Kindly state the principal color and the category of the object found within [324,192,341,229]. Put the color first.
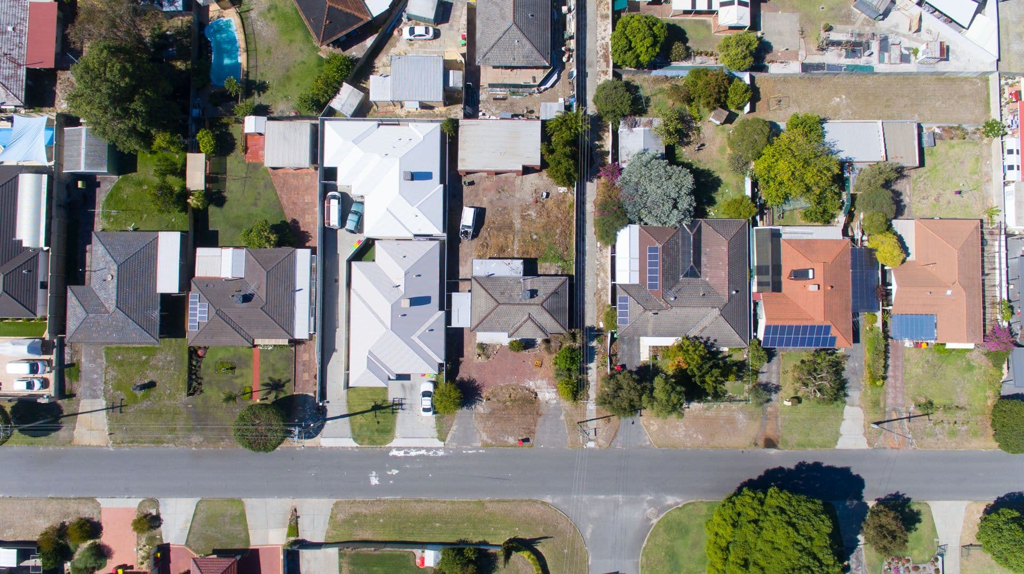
white vehicle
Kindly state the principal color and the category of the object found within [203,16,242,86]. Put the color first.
blue swimming pool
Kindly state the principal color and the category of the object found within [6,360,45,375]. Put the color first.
white vehicle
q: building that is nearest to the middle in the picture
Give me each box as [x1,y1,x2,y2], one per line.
[451,259,569,345]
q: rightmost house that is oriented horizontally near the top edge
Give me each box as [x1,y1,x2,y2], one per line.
[904,0,979,33]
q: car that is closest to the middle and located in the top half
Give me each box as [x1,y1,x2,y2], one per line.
[460,205,477,239]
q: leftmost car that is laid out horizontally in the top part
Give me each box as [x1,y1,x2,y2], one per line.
[402,25,435,41]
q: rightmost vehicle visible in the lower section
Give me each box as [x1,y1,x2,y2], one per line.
[419,381,434,415]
